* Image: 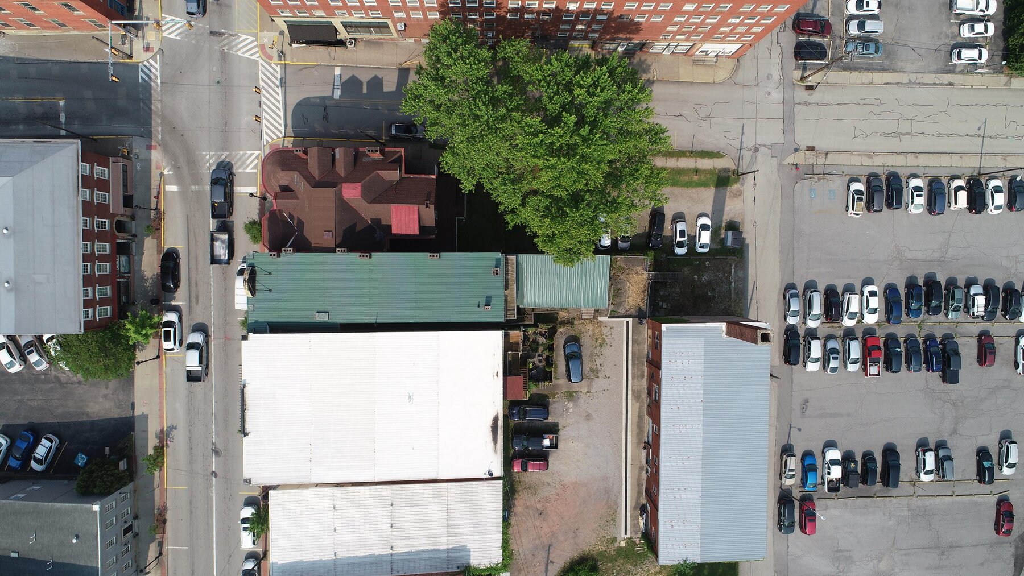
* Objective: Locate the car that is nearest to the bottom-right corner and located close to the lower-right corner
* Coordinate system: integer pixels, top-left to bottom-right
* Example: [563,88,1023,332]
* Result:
[991,498,1012,535]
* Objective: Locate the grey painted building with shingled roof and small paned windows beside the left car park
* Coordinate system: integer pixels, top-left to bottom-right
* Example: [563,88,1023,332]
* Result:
[0,482,139,576]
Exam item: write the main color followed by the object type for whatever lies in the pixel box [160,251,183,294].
black car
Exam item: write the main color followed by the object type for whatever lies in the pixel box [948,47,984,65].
white car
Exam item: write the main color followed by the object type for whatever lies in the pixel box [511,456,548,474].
red car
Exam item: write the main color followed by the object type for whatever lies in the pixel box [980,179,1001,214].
white car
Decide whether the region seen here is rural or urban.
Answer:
urban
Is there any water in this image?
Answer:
No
